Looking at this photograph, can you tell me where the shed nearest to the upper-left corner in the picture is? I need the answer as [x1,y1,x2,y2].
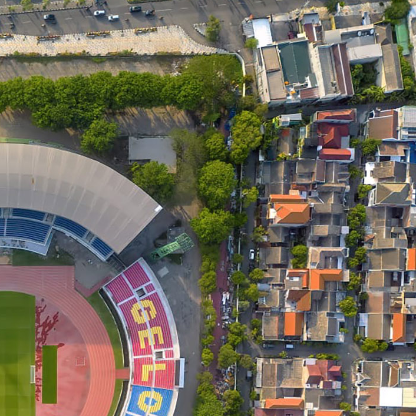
[126,138,176,161]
